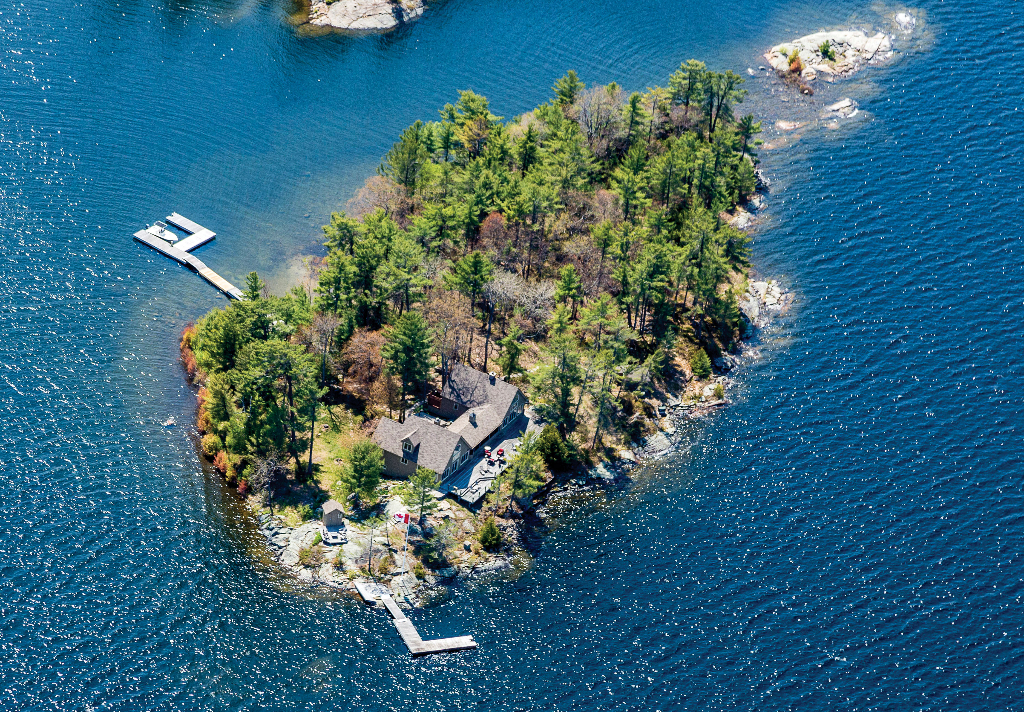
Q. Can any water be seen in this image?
Yes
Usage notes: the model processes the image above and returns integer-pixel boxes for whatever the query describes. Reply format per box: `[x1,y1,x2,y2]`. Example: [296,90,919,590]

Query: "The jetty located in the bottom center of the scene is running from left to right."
[393,618,477,656]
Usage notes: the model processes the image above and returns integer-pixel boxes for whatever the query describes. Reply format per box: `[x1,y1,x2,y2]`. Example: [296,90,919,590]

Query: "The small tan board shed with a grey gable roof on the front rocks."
[323,496,344,526]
